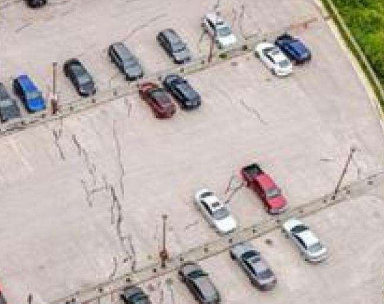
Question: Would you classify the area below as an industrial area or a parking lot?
parking lot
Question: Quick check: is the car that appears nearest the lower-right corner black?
No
